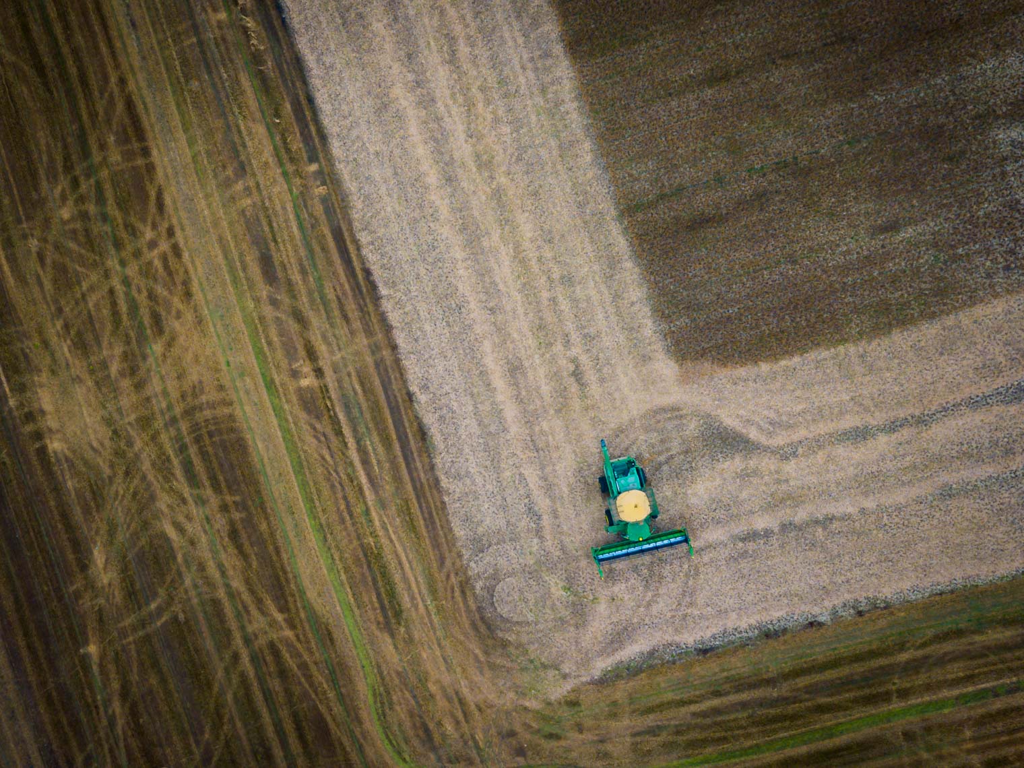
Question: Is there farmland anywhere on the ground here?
Yes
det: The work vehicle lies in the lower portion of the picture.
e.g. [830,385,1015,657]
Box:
[590,437,693,578]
